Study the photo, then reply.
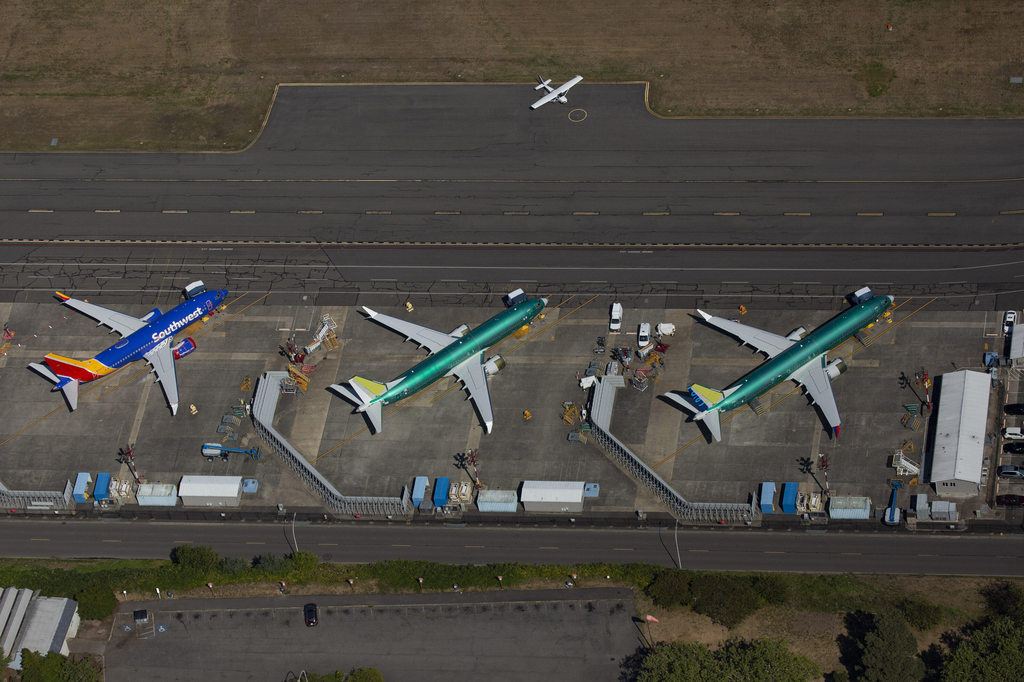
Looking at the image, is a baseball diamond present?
No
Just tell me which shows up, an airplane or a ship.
airplane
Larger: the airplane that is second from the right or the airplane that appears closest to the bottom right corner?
the airplane that appears closest to the bottom right corner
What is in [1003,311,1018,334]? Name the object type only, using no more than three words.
car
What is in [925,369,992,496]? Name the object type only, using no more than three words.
building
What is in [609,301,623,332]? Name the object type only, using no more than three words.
vehicle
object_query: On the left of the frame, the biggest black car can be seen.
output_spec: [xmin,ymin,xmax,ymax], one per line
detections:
[303,604,318,629]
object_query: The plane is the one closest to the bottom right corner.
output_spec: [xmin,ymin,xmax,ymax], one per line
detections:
[664,295,895,442]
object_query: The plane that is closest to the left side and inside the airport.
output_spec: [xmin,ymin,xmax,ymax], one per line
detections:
[28,288,229,418]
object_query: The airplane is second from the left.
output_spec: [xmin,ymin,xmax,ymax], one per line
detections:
[329,298,549,437]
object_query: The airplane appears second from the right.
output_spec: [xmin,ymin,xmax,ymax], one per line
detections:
[532,75,585,110]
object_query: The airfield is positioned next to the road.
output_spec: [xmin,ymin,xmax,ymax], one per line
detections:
[0,80,1024,529]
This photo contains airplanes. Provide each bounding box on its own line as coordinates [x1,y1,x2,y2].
[664,295,895,442]
[329,298,549,437]
[532,75,585,110]
[28,288,229,418]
